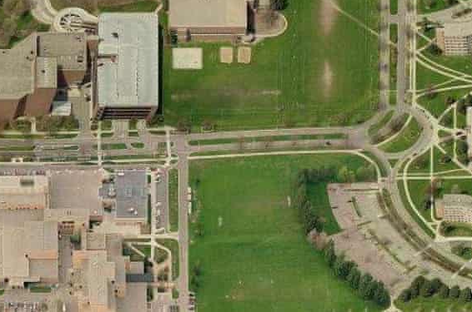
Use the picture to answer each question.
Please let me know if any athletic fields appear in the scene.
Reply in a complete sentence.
Yes, an athletic field can be made out from above.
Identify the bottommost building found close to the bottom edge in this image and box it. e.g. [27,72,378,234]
[73,233,155,312]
